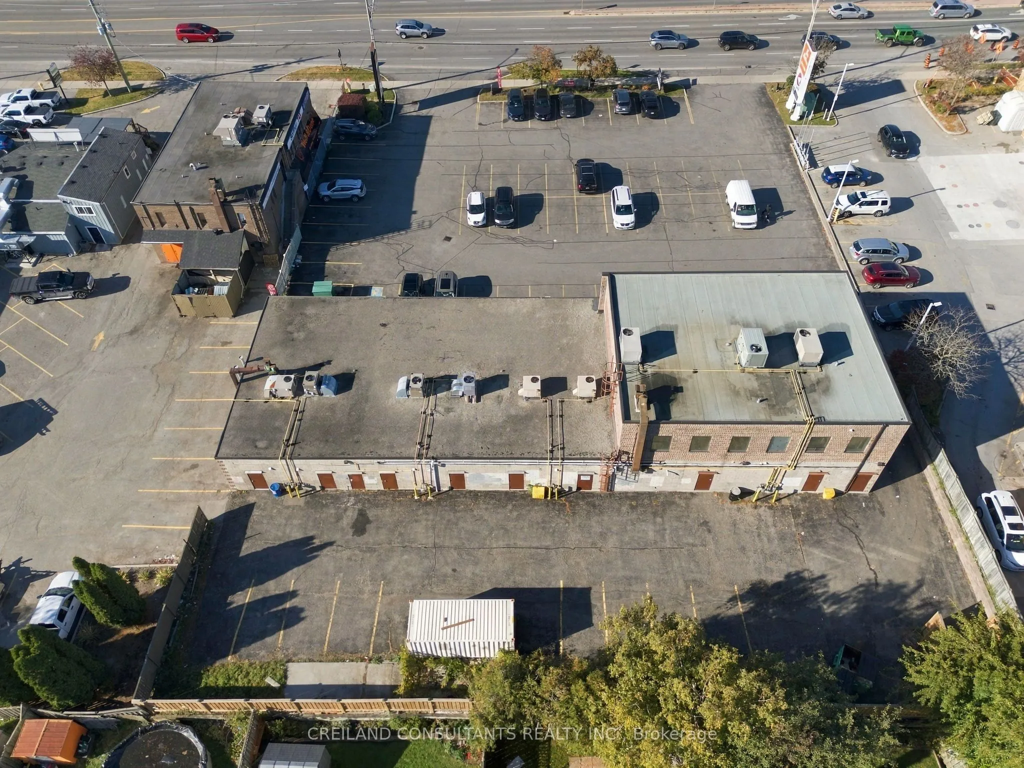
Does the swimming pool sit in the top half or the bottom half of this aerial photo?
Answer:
bottom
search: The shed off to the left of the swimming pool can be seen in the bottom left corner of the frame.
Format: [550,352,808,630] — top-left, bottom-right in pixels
[13,718,83,766]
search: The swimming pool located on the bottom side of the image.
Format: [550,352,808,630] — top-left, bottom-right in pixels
[92,706,226,768]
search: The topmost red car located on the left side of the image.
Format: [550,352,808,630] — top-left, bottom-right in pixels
[175,23,220,43]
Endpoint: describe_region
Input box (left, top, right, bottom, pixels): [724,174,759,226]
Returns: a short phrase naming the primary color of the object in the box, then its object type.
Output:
white van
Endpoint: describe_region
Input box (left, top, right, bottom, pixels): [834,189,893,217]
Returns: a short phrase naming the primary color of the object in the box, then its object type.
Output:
white car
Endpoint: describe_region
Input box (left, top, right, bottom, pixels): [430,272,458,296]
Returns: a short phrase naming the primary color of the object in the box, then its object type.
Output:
gray car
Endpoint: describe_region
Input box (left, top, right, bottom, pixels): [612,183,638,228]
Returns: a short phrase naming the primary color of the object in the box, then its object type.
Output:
white car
